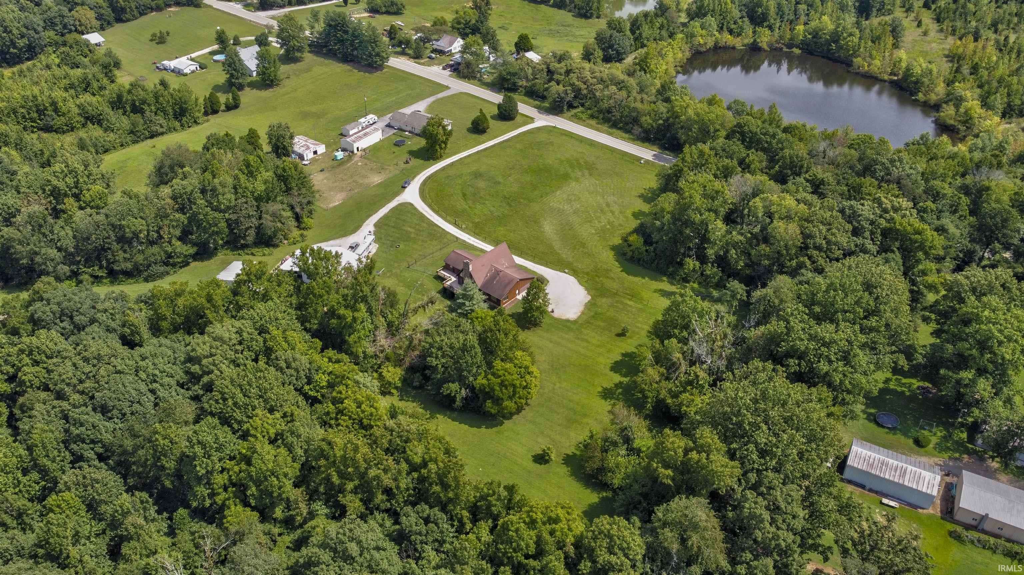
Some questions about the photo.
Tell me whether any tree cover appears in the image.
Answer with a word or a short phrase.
Yes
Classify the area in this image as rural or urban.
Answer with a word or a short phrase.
rural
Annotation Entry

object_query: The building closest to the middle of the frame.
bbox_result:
[436,241,537,307]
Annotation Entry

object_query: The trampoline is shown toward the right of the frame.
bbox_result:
[874,412,901,431]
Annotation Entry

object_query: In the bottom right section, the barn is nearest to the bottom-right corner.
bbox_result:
[954,468,1024,543]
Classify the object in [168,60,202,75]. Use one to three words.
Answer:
building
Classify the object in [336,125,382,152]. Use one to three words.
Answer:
shed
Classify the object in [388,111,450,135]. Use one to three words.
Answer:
house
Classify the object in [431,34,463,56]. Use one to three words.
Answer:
house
